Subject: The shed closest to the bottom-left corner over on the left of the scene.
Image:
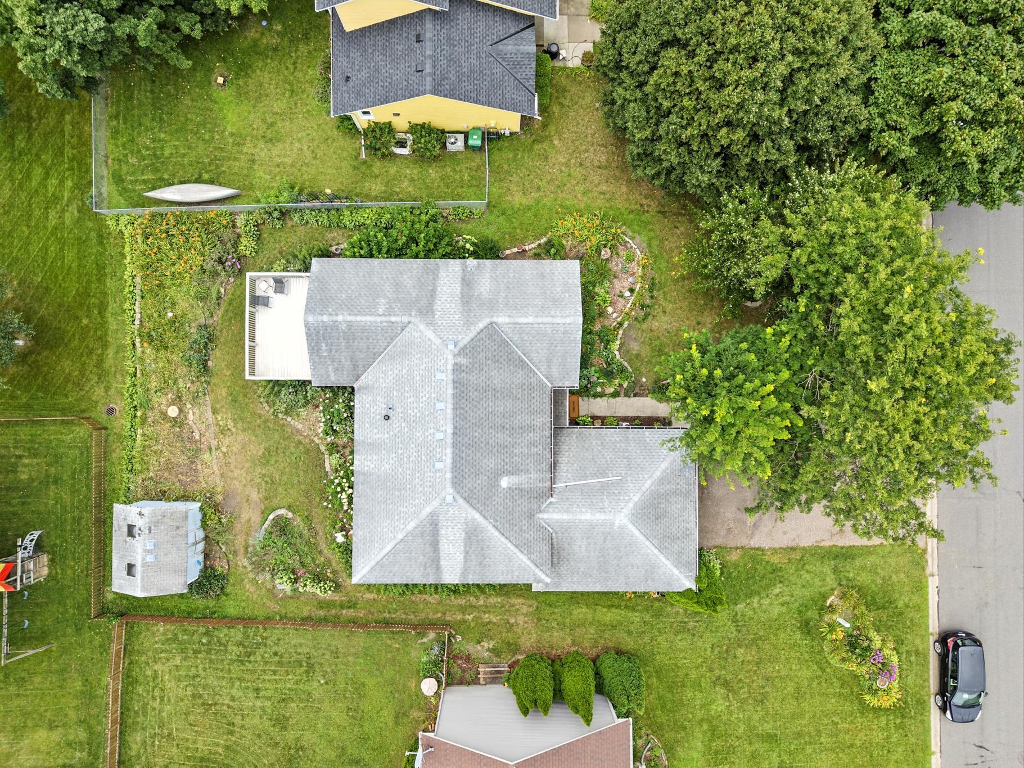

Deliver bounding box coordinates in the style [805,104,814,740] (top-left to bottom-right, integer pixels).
[113,501,204,601]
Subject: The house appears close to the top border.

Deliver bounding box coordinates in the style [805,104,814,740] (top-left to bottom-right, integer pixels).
[312,0,563,157]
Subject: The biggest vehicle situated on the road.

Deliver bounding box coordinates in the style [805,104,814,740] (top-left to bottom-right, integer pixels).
[935,633,990,723]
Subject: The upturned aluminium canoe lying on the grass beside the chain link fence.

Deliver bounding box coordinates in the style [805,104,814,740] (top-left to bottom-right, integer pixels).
[140,183,241,204]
